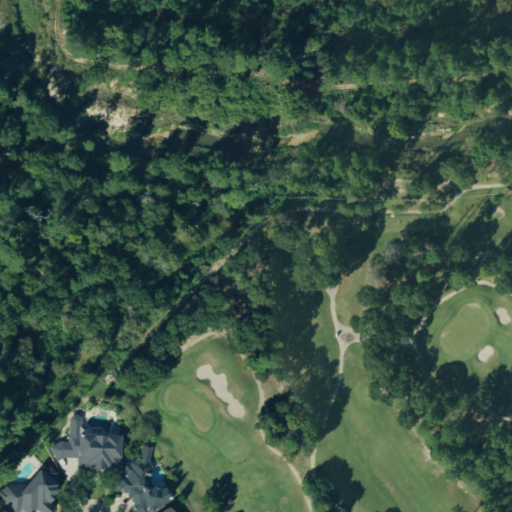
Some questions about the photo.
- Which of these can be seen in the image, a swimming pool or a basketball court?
swimming pool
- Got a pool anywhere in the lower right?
No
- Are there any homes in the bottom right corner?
No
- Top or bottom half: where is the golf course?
bottom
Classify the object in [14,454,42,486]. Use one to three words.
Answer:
swimming pool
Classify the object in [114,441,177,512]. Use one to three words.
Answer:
house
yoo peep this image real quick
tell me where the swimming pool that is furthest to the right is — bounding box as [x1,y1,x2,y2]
[150,462,168,490]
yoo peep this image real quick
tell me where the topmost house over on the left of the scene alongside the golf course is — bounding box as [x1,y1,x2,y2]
[50,409,124,471]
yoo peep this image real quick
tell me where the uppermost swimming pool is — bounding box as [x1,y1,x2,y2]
[83,407,117,433]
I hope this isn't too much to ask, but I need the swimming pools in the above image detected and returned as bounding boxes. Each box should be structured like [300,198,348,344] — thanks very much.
[14,454,42,486]
[150,462,168,490]
[83,407,117,433]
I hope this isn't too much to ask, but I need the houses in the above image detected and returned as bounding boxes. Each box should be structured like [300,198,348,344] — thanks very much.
[114,441,177,512]
[0,470,66,512]
[50,409,124,471]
